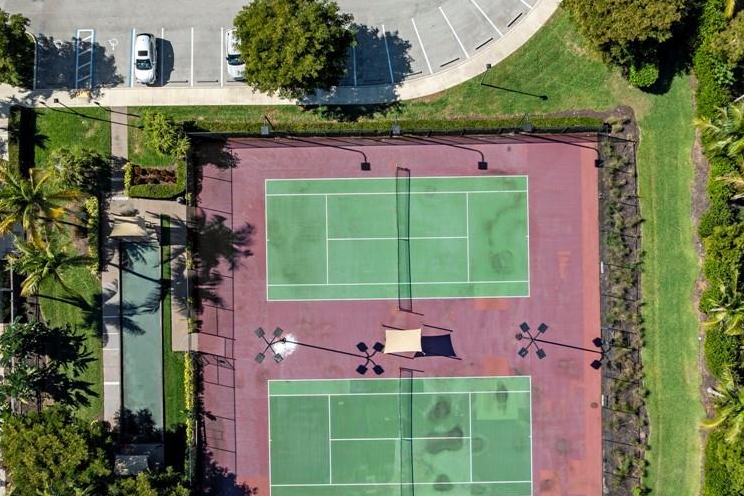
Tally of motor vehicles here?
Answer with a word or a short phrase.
two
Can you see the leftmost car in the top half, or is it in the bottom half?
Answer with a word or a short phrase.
top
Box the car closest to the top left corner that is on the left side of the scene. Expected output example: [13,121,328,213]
[131,32,158,86]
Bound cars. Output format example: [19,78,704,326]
[131,32,158,86]
[223,29,249,84]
